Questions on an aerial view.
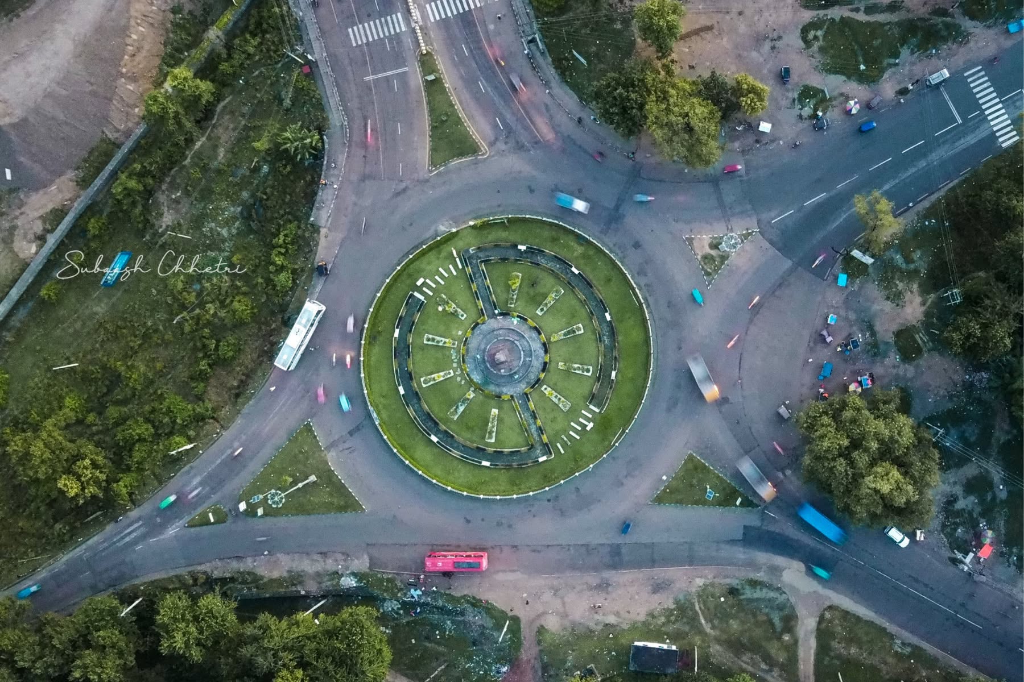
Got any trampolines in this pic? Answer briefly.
No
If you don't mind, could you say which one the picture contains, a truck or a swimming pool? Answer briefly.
truck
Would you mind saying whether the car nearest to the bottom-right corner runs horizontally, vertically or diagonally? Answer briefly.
diagonally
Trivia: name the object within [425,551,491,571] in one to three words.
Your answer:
bus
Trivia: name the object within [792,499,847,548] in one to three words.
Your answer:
truck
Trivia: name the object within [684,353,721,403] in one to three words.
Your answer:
truck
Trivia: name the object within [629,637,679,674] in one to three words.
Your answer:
house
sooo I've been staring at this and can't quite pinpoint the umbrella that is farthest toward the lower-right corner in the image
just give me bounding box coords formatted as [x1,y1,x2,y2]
[978,529,995,544]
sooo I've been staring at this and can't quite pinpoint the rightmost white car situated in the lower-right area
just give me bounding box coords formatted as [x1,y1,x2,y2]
[881,525,908,548]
